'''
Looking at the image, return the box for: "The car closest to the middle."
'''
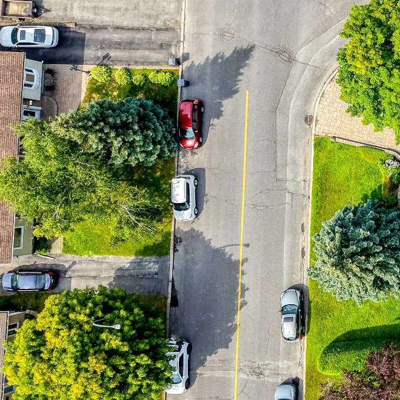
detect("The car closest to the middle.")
[168,175,201,220]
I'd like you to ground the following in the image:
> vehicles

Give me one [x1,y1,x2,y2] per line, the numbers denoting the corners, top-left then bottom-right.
[0,22,60,49]
[276,289,307,341]
[160,340,194,394]
[0,267,57,295]
[274,383,301,400]
[168,175,201,220]
[176,100,205,149]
